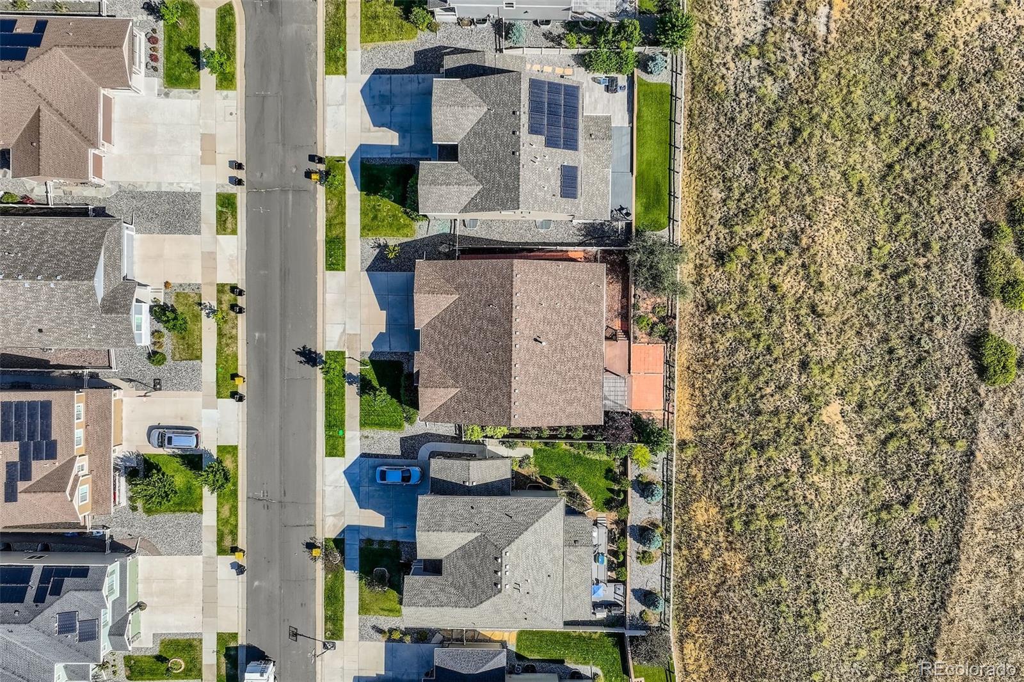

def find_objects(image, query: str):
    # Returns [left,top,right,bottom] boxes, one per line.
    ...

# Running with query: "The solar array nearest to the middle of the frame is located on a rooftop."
[561,165,578,198]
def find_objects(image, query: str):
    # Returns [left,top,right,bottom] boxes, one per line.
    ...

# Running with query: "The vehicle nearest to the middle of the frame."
[378,464,423,486]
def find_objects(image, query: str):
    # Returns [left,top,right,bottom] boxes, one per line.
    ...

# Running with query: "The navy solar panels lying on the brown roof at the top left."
[0,19,48,60]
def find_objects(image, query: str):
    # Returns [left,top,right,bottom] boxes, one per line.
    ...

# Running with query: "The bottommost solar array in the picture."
[57,612,98,644]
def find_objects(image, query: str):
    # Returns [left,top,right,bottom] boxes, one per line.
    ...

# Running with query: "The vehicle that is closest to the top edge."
[151,428,201,451]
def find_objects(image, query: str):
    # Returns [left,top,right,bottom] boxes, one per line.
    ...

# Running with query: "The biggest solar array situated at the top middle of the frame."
[529,78,579,150]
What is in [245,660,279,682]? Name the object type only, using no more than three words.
camper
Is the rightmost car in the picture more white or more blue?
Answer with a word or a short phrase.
blue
